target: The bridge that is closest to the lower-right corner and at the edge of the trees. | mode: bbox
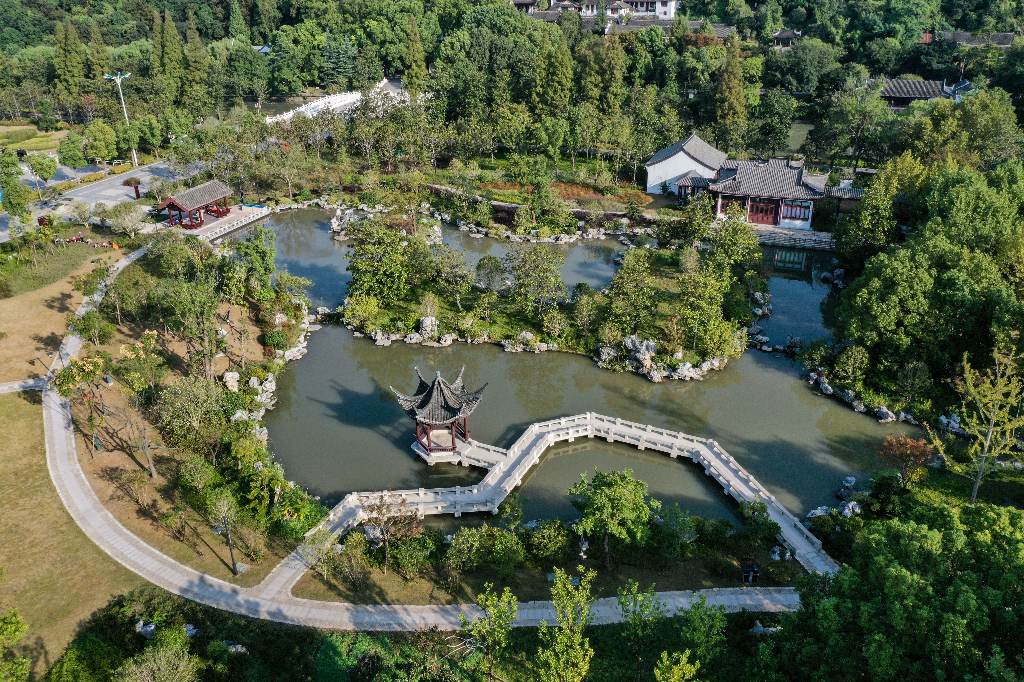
[306,412,840,568]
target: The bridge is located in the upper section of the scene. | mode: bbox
[263,84,416,124]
